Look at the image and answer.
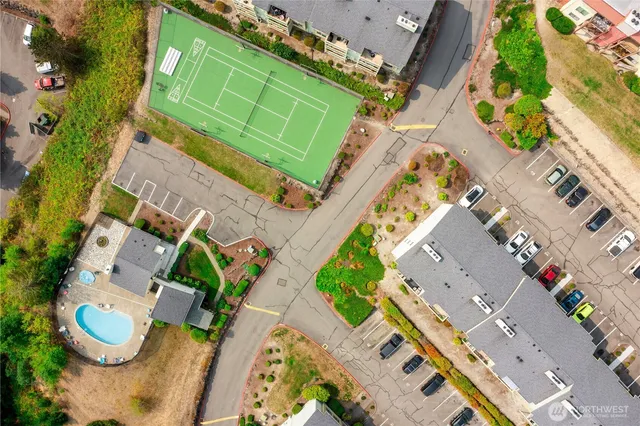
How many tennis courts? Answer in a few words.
1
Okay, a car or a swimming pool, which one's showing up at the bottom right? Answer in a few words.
car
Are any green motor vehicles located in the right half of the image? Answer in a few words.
Yes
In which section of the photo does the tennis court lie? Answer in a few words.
top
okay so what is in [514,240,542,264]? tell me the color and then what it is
white car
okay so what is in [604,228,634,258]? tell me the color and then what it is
white truck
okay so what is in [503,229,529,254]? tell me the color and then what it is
white car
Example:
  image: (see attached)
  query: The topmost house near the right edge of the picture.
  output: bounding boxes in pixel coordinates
[561,0,640,85]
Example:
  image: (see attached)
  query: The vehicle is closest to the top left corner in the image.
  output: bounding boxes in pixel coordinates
[20,22,38,48]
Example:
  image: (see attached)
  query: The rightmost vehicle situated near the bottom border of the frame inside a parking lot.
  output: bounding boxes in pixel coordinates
[448,404,474,426]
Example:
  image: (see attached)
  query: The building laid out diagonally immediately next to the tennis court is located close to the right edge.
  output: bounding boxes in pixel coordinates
[391,204,640,426]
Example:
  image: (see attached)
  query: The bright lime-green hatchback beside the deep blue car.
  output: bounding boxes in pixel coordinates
[571,300,596,322]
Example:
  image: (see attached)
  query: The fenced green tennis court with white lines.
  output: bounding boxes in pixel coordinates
[148,6,361,187]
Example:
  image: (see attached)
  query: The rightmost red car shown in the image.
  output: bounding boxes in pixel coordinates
[536,263,562,286]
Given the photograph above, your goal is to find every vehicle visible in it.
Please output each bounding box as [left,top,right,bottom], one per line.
[503,229,529,254]
[571,300,596,322]
[604,228,634,258]
[536,263,562,286]
[559,286,585,312]
[20,22,38,48]
[584,207,611,231]
[34,76,67,91]
[420,371,446,396]
[544,164,567,186]
[458,184,484,210]
[400,352,424,375]
[448,404,474,426]
[514,240,542,264]
[554,174,581,198]
[377,332,406,359]
[564,186,589,210]
[34,61,60,75]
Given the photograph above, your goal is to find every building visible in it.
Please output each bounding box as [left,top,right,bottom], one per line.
[208,0,434,82]
[104,227,214,330]
[288,404,346,426]
[561,0,640,85]
[391,204,640,426]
